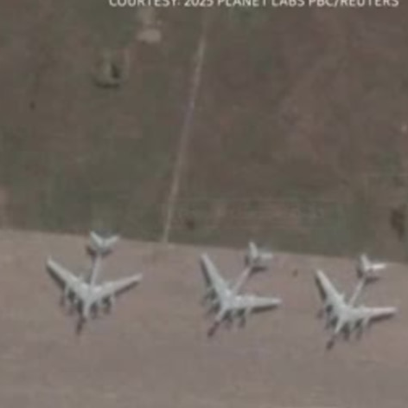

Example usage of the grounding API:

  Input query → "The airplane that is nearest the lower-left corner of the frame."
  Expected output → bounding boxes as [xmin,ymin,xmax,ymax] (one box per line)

[48,231,141,327]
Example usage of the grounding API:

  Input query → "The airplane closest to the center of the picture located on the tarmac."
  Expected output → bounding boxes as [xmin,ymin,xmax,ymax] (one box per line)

[200,241,281,331]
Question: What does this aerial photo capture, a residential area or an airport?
airport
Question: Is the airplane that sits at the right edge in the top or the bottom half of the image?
bottom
